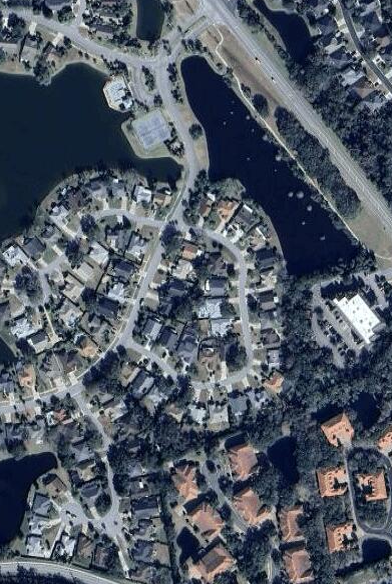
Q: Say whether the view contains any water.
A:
Yes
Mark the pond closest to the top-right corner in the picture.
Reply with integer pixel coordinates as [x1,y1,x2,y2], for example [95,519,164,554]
[254,0,313,66]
